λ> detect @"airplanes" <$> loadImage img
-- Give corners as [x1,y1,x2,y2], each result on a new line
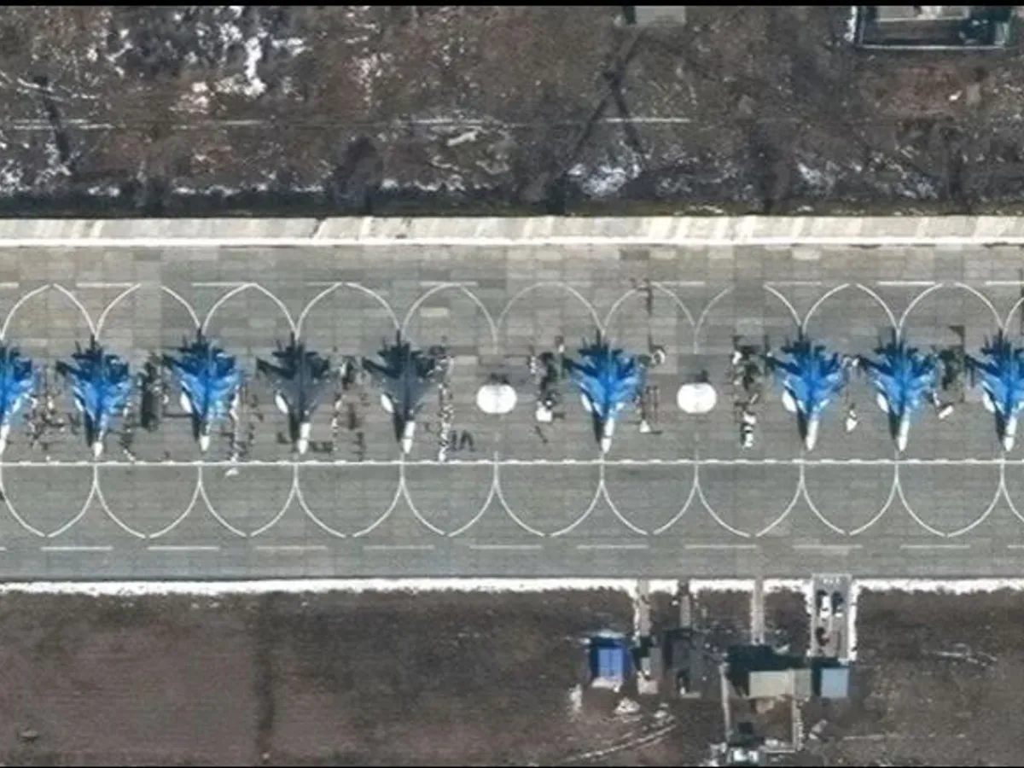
[870,339,937,450]
[0,338,39,453]
[777,338,845,450]
[373,338,443,452]
[64,340,135,455]
[171,336,242,450]
[979,340,1024,451]
[572,339,641,452]
[269,338,339,452]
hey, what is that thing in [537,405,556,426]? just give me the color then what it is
white vehicle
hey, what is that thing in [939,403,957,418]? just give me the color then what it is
white vehicle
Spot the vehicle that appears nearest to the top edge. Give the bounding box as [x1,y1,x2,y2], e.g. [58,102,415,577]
[994,20,1009,42]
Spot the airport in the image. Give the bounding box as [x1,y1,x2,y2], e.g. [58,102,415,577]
[0,244,1024,584]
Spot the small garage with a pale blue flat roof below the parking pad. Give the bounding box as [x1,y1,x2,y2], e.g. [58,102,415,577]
[815,668,847,696]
